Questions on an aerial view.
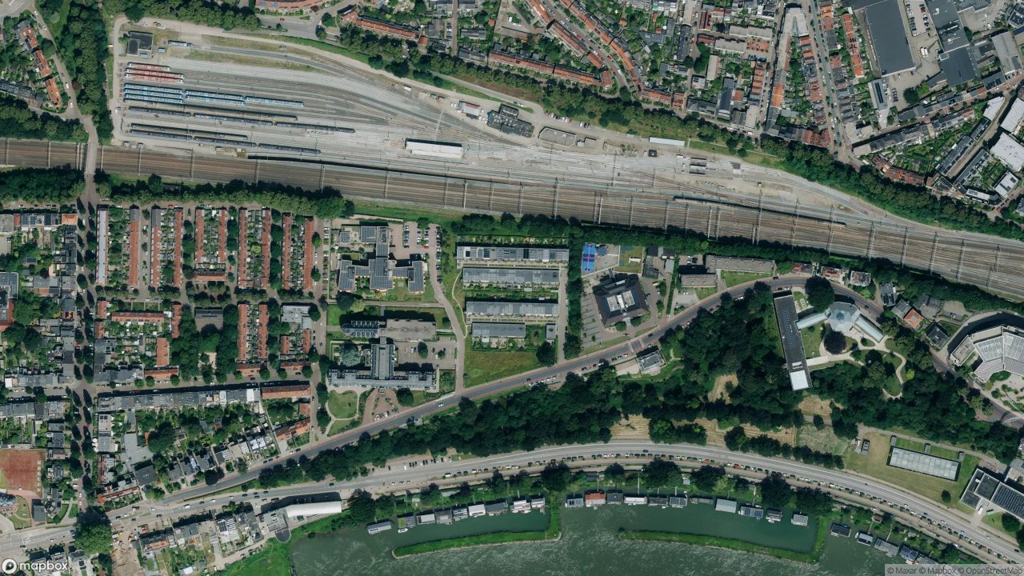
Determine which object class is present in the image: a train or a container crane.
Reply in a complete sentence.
Visible in the photo is a train.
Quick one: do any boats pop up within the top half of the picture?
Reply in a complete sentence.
No, there is no boat within the top half of the picture.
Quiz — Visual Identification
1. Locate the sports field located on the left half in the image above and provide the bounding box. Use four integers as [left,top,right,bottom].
[0,448,46,523]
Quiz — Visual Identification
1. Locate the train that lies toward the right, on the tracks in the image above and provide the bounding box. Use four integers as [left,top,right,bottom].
[675,198,846,227]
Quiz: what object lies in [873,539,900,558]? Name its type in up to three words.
boat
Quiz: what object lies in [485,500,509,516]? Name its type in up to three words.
boat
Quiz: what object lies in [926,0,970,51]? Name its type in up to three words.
building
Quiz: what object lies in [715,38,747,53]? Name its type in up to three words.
house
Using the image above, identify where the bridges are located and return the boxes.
[85,114,97,189]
